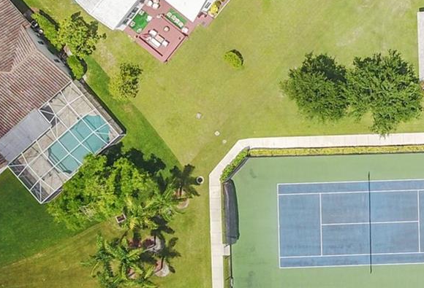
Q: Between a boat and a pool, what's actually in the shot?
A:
pool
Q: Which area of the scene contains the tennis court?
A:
bottom right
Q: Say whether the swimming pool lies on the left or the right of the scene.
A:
left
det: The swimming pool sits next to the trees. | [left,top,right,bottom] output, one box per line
[47,113,109,171]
